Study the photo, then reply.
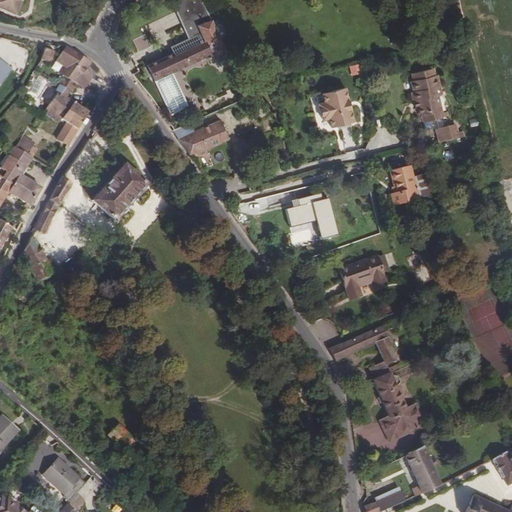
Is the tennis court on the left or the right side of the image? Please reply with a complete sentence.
It is on the right.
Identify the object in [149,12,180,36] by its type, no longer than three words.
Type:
building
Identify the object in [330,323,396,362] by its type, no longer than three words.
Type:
barn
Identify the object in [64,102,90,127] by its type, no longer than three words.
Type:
house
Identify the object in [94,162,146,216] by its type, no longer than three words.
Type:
house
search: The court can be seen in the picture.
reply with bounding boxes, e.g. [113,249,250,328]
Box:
[456,286,512,380]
